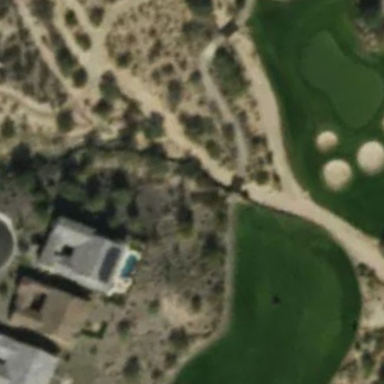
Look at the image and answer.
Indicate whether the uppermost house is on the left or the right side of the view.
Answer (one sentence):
The uppermost house appears in the left half of the scene.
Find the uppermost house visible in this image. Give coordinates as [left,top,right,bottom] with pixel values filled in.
[37,215,126,293]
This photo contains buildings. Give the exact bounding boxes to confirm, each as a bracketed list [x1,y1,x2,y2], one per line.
[0,335,60,384]
[6,276,81,339]
[37,215,126,293]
